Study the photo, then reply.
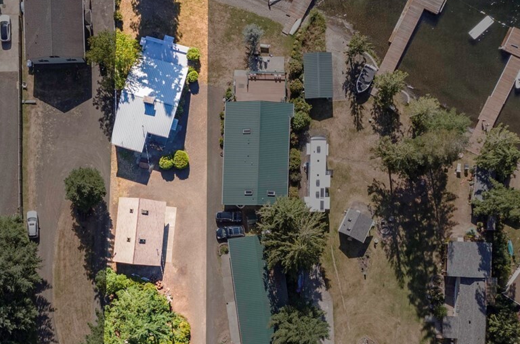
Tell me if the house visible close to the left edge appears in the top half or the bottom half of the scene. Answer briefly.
top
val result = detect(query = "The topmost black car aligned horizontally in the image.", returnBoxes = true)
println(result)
[215,212,243,224]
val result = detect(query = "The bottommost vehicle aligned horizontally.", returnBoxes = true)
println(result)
[217,225,245,239]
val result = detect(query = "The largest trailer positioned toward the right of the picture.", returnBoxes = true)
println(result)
[302,135,331,211]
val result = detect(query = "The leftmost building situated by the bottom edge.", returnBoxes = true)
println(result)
[225,236,275,344]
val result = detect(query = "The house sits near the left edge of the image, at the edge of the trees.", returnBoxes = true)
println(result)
[23,0,92,64]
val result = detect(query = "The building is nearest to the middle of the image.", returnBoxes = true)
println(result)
[222,101,295,209]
